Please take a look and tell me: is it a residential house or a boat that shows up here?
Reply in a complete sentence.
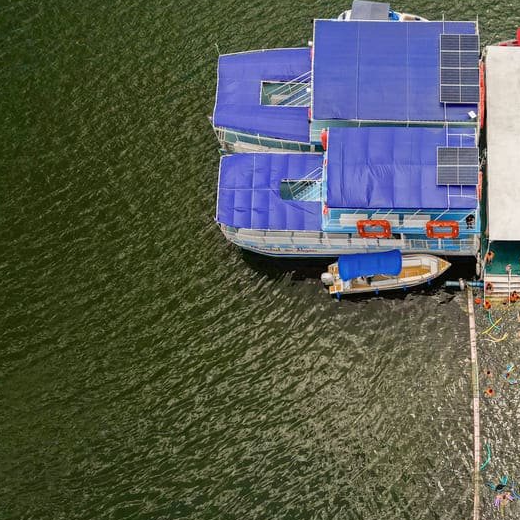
Looking from above, you can make out a boat.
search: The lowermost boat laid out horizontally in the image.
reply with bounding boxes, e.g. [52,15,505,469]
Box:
[322,248,452,300]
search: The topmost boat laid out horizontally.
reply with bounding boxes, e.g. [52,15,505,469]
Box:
[339,0,419,19]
